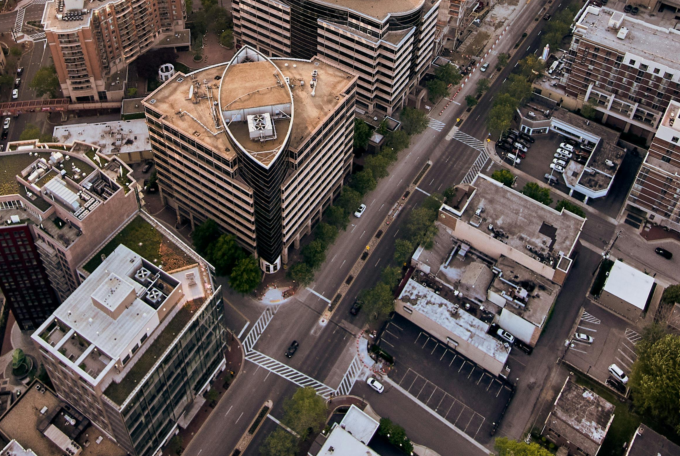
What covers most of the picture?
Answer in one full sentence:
For the most part, this view shows buildings.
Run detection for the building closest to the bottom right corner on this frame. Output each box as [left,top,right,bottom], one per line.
[624,423,680,456]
